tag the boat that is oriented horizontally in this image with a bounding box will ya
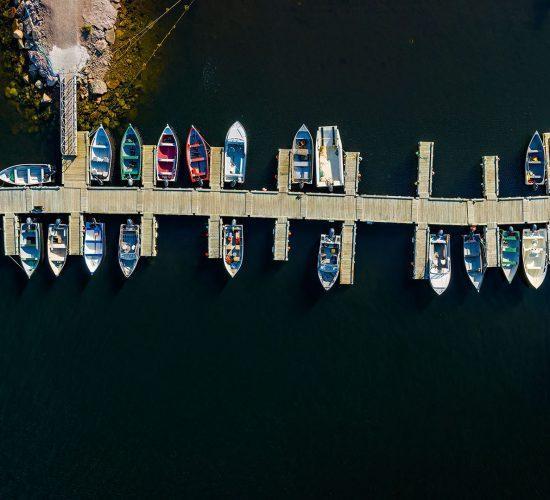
[0,164,60,186]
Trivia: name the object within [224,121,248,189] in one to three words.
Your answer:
boat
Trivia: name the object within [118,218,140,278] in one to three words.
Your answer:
boat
